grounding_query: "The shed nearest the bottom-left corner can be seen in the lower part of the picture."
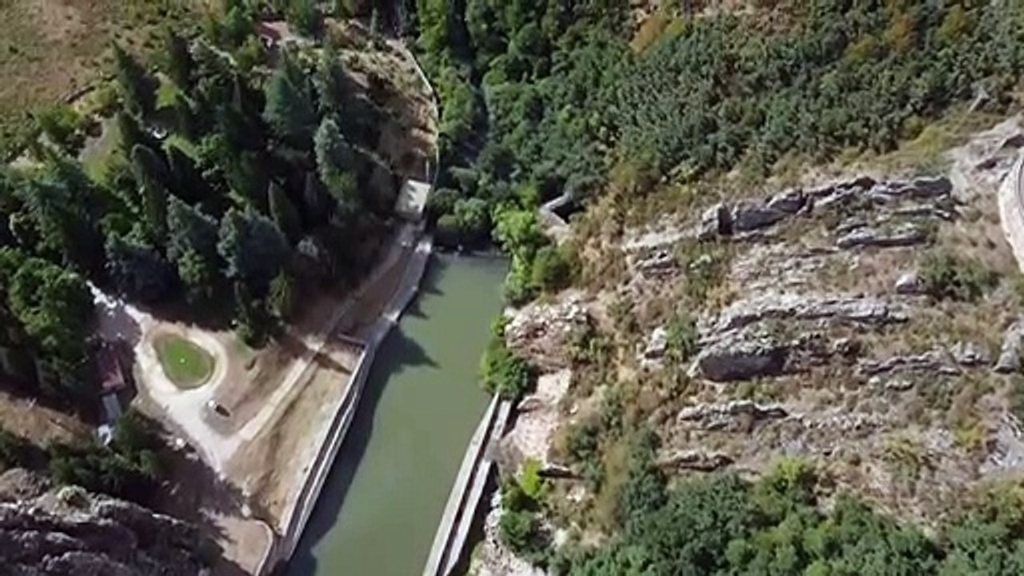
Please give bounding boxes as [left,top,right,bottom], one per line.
[103,395,130,428]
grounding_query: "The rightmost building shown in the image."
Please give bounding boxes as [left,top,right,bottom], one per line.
[542,194,572,226]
